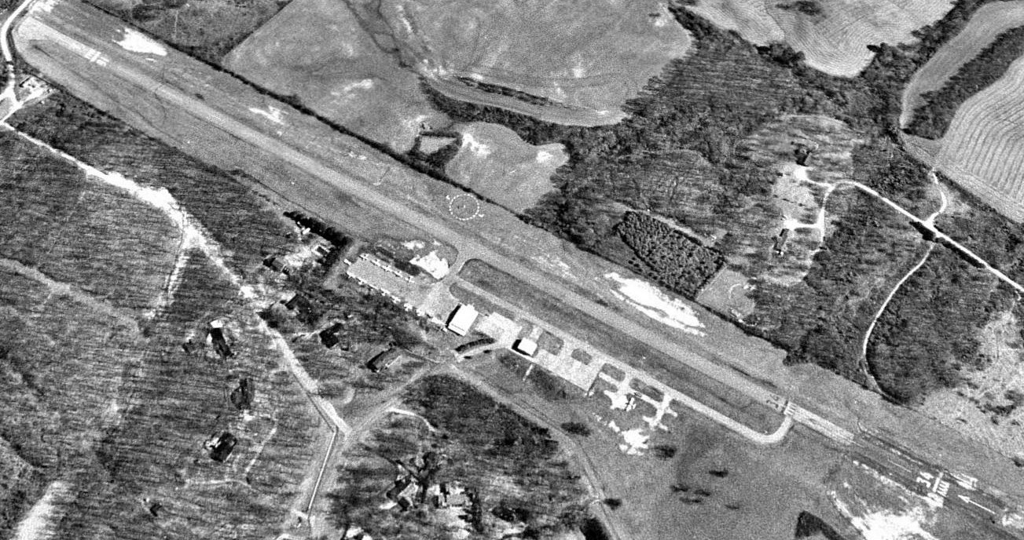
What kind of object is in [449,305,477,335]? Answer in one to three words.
hangar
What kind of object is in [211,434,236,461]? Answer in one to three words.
house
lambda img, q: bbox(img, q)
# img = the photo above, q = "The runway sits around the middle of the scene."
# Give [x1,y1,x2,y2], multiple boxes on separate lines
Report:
[32,18,788,414]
